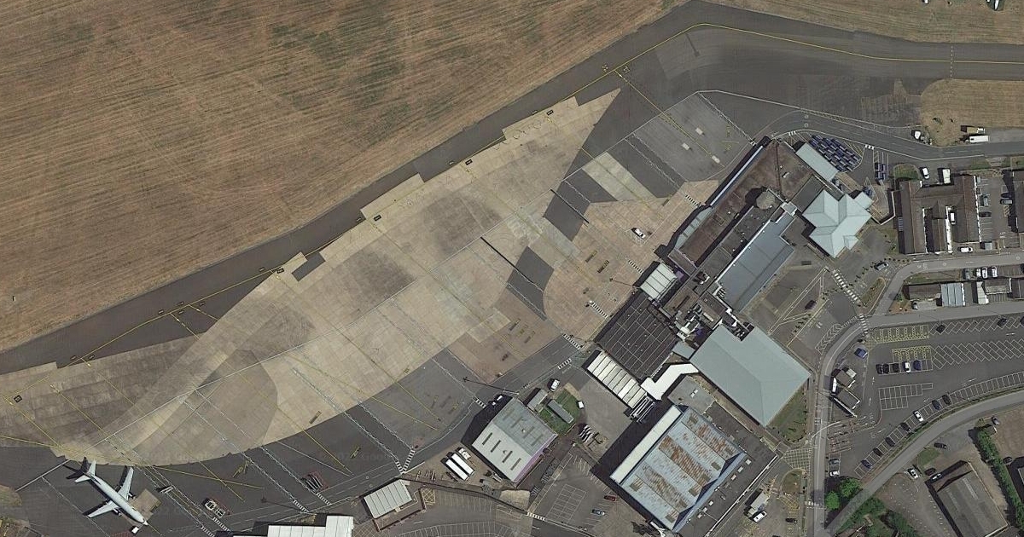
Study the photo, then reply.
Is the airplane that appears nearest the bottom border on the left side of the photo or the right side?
left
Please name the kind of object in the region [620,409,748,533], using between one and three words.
hangar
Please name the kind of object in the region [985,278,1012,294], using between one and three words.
shed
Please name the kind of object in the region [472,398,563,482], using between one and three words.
hangar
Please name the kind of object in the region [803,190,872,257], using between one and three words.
building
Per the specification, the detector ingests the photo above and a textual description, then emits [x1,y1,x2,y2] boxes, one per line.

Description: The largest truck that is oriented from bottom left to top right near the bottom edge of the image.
[749,490,770,512]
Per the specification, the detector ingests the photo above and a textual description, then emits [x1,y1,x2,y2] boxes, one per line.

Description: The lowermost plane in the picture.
[75,460,149,525]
